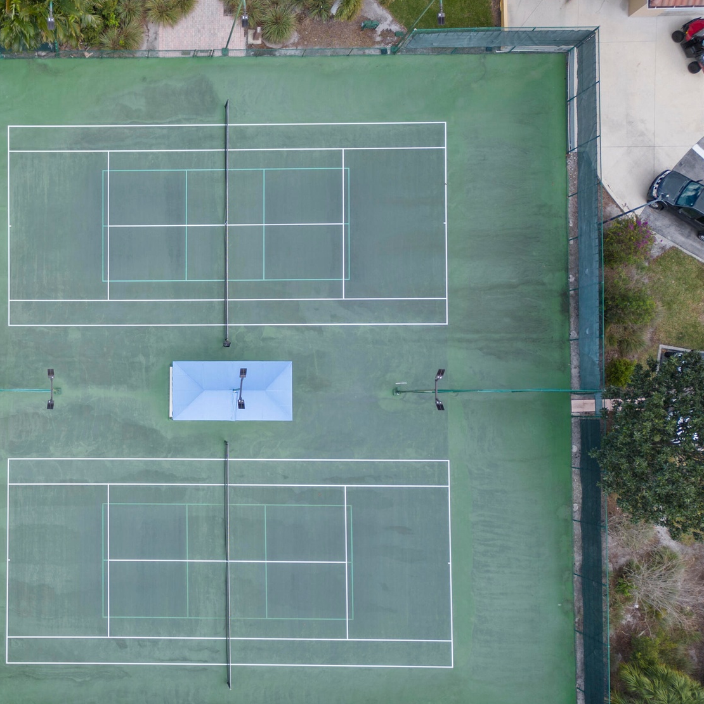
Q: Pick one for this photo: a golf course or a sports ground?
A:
sports ground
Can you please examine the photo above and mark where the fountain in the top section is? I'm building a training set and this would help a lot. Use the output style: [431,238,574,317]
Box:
[249,27,263,46]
